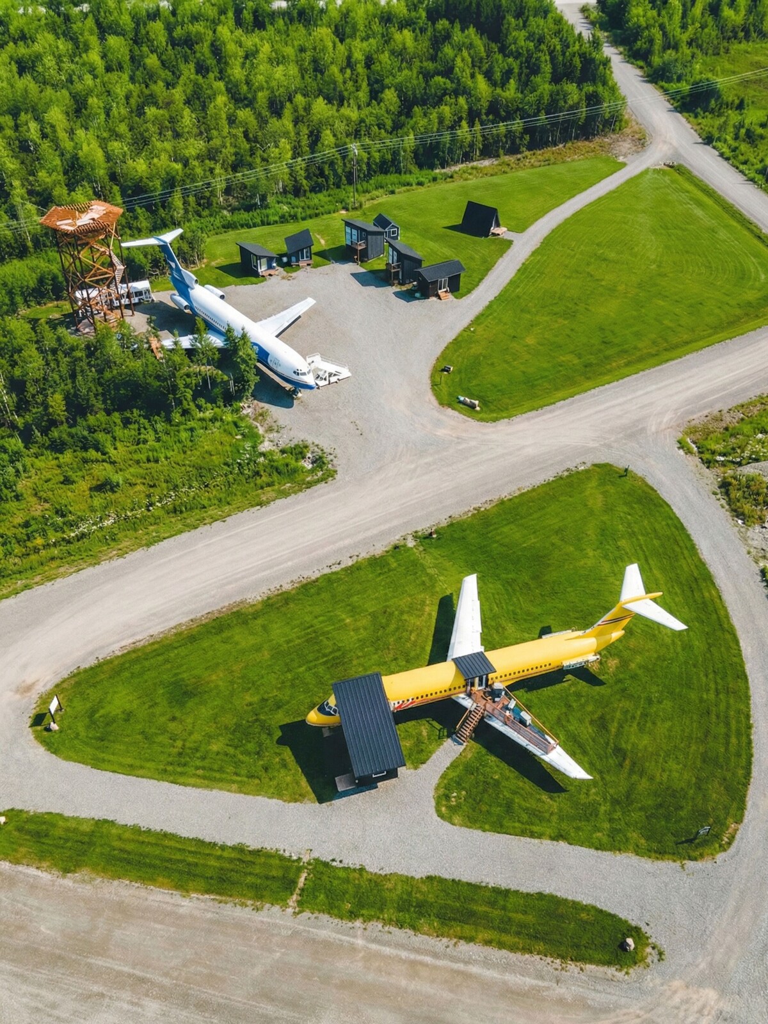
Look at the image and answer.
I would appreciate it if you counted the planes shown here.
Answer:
two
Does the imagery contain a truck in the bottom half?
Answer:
No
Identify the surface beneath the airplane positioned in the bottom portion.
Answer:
grass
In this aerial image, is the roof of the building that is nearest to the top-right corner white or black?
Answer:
black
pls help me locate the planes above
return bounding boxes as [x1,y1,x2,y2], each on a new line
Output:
[121,228,316,394]
[380,563,689,780]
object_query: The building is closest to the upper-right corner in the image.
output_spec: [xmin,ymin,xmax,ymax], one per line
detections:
[458,195,514,239]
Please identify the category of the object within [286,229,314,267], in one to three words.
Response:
building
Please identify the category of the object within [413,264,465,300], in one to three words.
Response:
building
